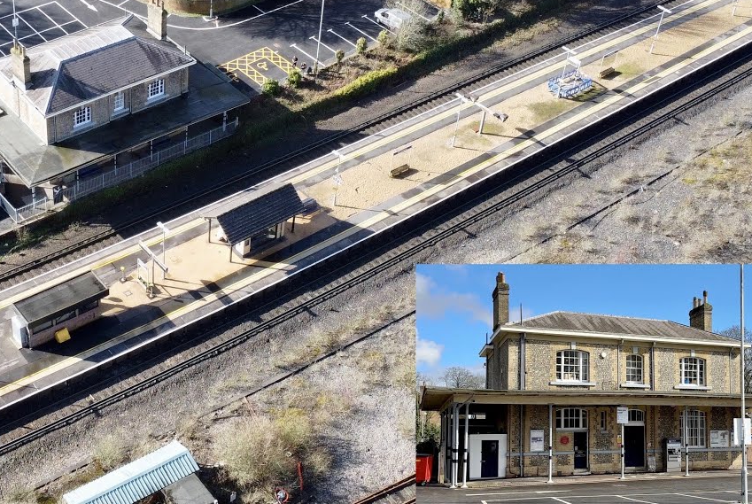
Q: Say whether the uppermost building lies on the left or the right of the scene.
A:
left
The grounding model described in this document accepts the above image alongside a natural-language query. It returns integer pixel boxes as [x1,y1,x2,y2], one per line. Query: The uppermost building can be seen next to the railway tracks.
[0,0,253,208]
